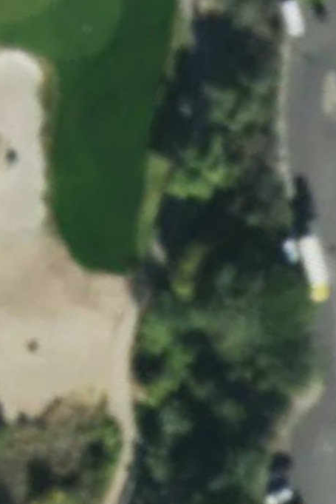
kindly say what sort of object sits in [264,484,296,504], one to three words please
car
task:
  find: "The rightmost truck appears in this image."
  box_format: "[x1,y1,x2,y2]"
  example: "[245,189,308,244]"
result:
[299,236,330,303]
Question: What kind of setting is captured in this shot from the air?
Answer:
golf course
